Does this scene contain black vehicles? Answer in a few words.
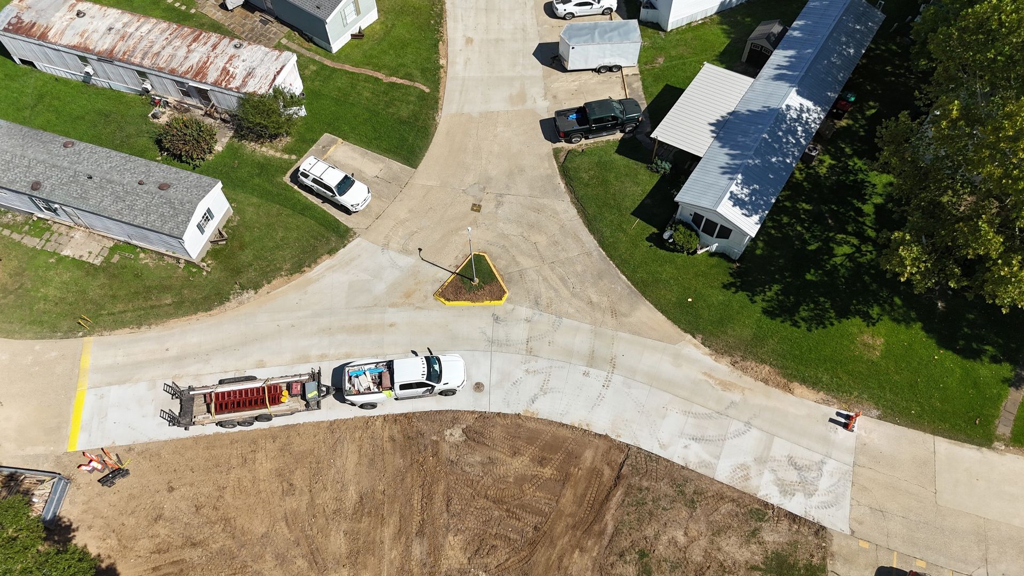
Yes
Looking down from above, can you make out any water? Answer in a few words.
No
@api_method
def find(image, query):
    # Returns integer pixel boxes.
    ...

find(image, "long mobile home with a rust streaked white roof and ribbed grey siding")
[0,0,310,123]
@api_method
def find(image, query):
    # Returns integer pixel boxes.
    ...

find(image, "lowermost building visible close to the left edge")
[0,121,232,262]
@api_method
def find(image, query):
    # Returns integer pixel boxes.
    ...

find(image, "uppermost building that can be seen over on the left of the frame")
[247,0,380,54]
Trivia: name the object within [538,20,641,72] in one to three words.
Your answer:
trailer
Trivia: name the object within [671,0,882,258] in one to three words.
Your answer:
house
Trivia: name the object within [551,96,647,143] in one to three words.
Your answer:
truck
